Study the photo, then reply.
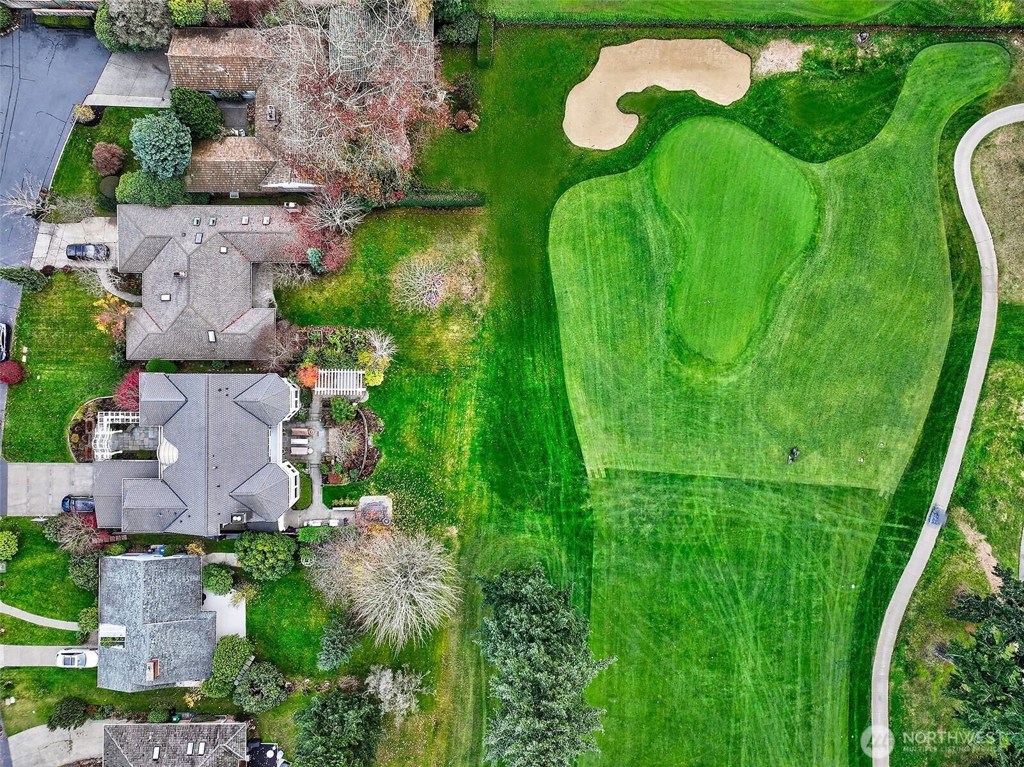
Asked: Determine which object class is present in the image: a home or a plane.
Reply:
home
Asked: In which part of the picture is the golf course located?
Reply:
right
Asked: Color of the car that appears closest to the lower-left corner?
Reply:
white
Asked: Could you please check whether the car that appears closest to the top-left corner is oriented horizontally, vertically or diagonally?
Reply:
horizontally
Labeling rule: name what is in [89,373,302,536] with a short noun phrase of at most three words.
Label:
house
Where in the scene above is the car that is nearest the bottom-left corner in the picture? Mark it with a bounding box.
[55,647,97,669]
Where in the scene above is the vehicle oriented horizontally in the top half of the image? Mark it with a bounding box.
[62,241,109,261]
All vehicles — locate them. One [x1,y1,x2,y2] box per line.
[0,322,10,364]
[62,241,109,261]
[929,506,954,531]
[59,496,92,516]
[55,647,97,669]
